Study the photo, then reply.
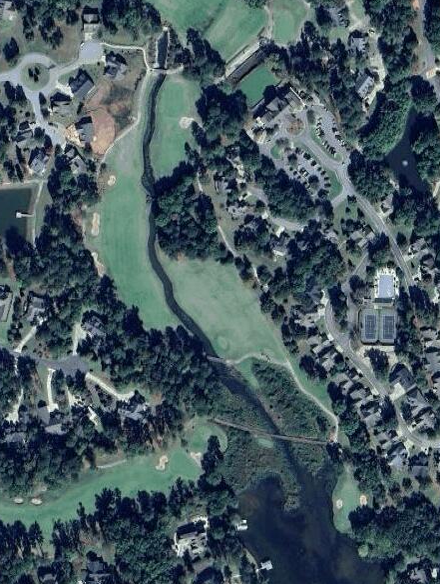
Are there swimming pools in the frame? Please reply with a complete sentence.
Yes, the picture does show a swimming pool.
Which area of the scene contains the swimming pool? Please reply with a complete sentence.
Look in the right portion of the view to spot the swimming pool.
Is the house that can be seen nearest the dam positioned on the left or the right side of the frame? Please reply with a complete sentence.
It is on the left.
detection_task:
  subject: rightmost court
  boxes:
[380,310,397,344]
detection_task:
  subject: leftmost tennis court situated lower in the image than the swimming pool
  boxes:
[362,310,380,344]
